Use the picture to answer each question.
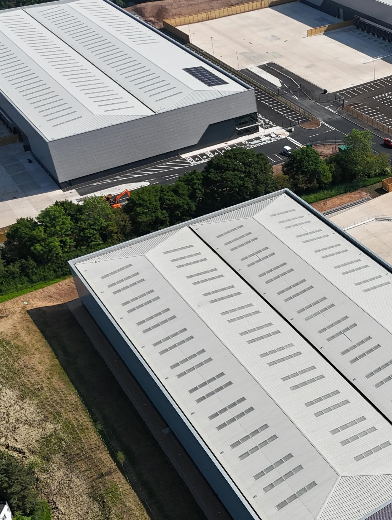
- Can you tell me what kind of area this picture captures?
industrial area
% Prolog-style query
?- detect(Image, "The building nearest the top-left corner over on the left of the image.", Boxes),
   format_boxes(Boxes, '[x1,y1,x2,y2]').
[0,0,264,189]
